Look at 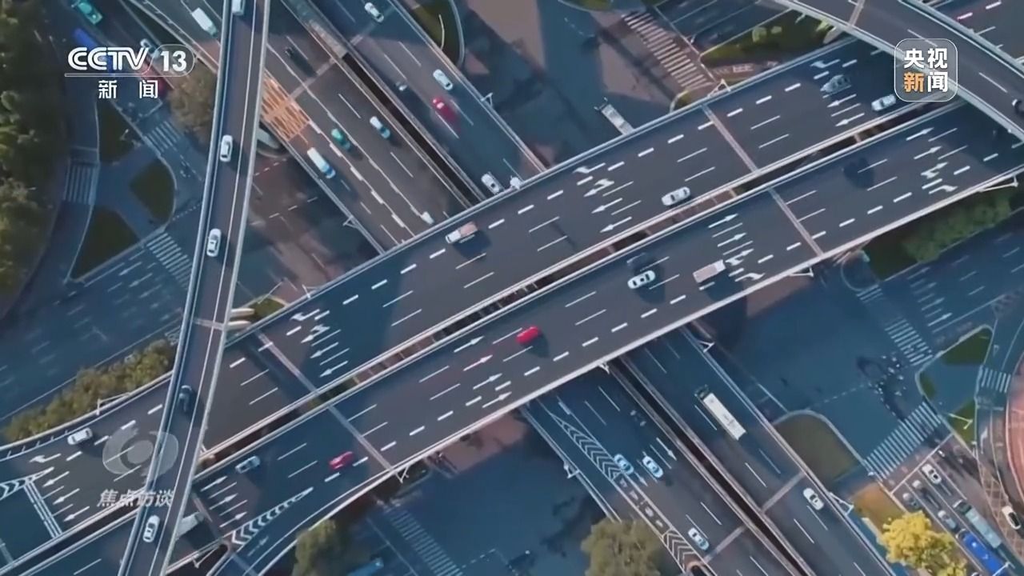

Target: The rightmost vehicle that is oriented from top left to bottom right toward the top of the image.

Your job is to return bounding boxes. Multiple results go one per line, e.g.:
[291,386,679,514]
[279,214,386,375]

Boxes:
[598,94,637,136]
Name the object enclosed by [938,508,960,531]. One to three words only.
car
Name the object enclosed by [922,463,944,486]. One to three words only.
car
